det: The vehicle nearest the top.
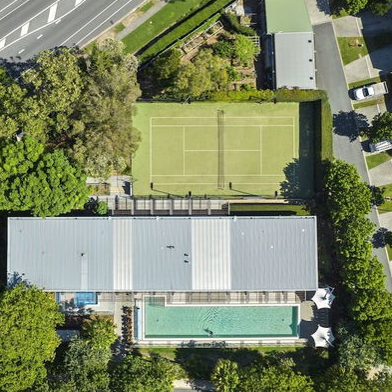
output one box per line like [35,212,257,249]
[356,79,392,99]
